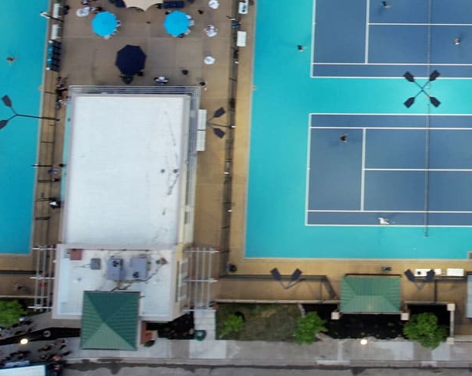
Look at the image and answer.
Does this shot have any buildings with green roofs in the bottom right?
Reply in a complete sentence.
Yes, in the bottom right there is a building with a green roof.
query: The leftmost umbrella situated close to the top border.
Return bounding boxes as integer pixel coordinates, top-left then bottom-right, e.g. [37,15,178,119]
[93,12,121,37]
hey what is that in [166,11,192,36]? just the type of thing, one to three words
umbrella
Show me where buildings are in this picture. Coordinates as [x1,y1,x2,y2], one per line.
[23,86,219,350]
[340,275,403,313]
